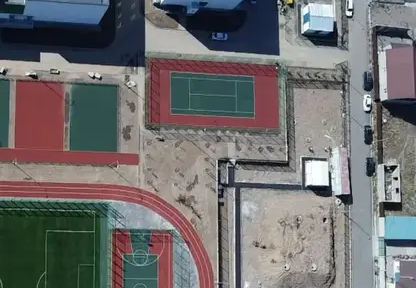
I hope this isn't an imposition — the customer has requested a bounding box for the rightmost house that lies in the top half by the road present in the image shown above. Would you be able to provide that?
[379,42,416,104]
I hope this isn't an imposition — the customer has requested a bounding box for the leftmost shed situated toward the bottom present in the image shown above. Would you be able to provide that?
[300,159,331,187]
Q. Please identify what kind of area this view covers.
sports ground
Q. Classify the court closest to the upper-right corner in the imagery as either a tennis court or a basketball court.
tennis court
